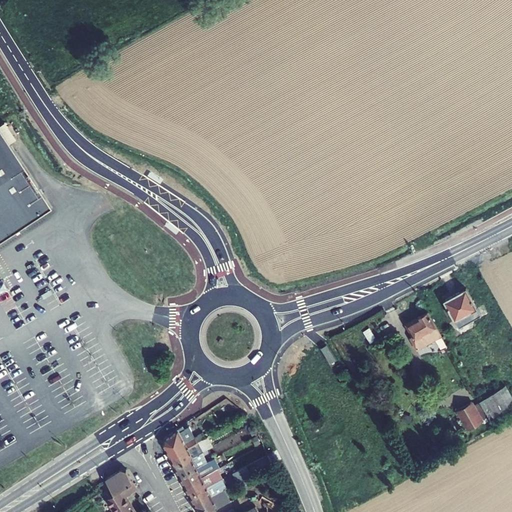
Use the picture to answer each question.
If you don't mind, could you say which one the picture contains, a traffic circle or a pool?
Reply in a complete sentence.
The one in the frame is a traffic circle.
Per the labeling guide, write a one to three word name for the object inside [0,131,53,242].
building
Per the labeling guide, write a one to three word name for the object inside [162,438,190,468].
house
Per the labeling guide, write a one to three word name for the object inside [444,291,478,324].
house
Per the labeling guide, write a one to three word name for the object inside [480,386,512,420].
barn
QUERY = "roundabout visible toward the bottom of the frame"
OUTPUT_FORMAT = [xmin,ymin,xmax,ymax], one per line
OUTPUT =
[171,276,283,396]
